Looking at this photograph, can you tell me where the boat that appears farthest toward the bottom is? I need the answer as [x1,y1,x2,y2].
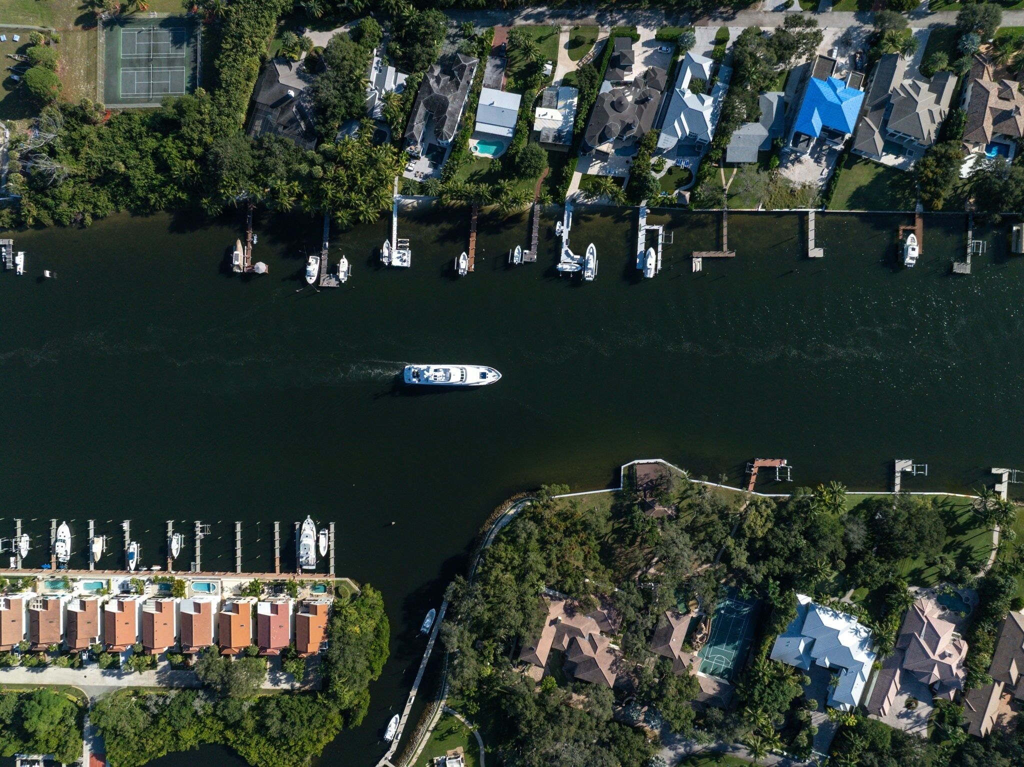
[385,714,399,743]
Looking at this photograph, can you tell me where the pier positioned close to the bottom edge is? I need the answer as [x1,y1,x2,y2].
[372,581,447,767]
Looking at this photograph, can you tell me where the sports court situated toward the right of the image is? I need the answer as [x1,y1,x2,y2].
[698,591,758,685]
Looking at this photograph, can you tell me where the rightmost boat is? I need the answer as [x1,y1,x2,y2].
[901,232,920,267]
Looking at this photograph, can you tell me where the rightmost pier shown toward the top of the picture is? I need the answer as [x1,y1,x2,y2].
[951,212,975,274]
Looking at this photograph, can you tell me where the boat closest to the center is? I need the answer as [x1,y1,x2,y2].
[404,365,502,385]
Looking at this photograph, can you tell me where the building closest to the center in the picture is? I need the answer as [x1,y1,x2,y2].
[643,498,677,519]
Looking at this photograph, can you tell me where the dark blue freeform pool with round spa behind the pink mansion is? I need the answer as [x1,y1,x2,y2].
[936,590,972,615]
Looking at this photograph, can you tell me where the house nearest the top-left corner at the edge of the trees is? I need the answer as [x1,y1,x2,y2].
[257,60,317,137]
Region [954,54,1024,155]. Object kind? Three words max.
house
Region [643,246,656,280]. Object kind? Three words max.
boat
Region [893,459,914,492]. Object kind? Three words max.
pier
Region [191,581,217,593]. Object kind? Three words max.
swimming pool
